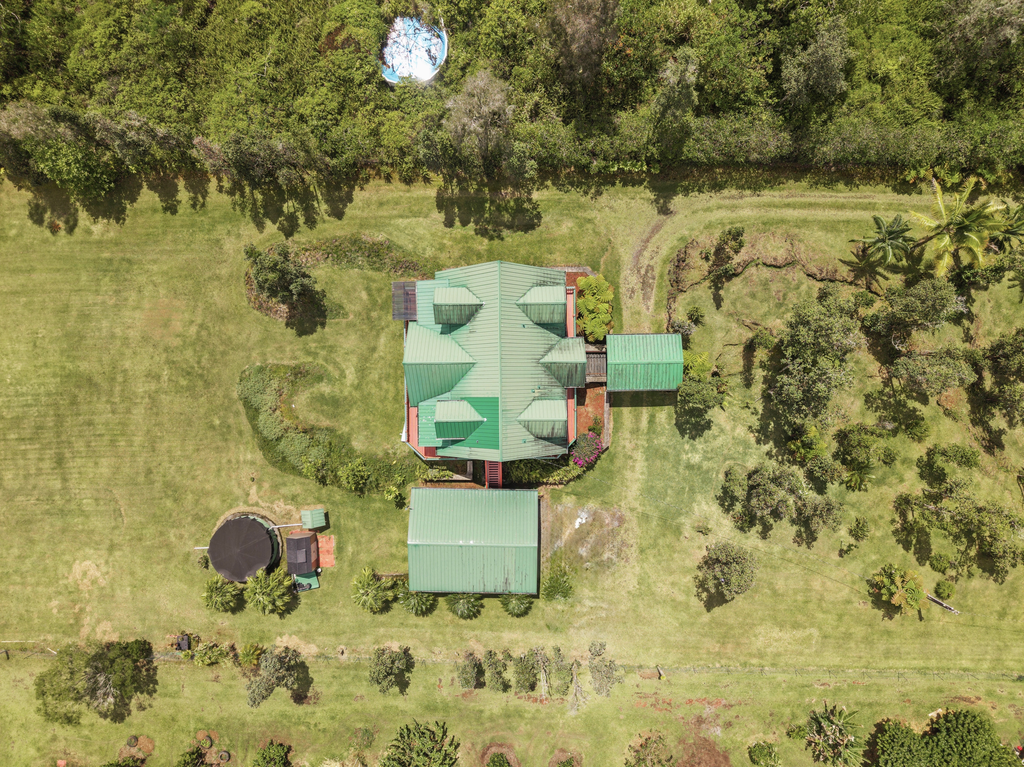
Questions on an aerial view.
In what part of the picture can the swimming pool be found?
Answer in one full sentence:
You can find the swimming pool in the top area of the picture.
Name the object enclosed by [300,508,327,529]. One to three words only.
shed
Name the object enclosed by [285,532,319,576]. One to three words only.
shed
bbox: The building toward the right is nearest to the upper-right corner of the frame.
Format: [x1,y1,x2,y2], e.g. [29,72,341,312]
[605,333,684,392]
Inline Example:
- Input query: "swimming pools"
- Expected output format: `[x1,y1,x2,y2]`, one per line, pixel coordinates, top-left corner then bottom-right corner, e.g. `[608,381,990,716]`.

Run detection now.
[382,15,449,91]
